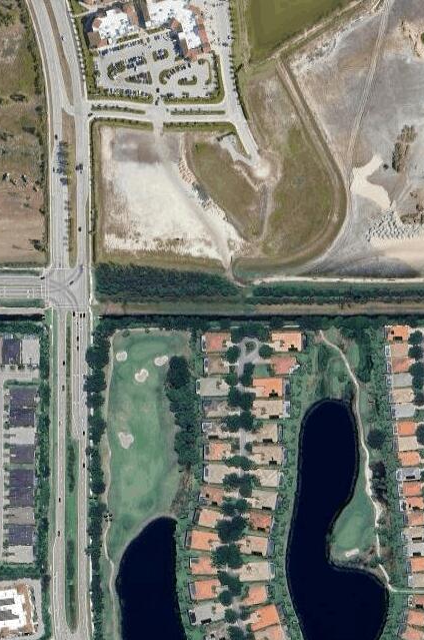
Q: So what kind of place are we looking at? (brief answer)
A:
residential area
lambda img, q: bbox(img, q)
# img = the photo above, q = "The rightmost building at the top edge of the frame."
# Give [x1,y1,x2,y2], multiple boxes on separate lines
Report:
[140,0,212,60]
